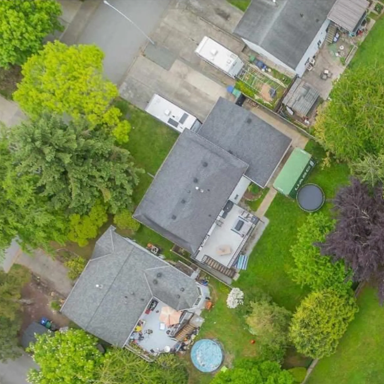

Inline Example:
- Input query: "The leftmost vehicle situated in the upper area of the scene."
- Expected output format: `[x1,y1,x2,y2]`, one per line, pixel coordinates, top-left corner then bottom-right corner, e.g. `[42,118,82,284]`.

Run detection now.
[145,94,202,134]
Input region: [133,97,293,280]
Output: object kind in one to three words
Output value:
house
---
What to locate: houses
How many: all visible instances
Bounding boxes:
[133,97,293,280]
[59,228,216,355]
[232,0,344,83]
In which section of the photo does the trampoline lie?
right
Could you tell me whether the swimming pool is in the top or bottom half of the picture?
bottom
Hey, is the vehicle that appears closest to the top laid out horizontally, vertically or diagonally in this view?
diagonally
